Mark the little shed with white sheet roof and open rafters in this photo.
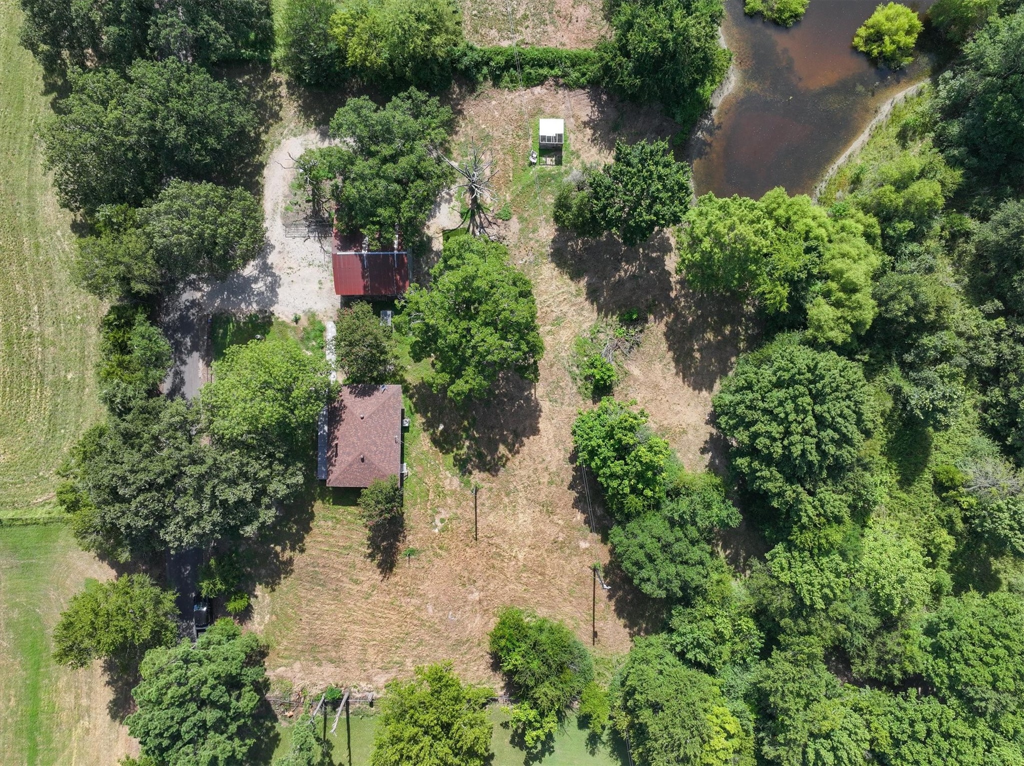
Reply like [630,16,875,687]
[539,118,563,149]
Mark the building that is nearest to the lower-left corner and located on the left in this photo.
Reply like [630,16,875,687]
[318,384,411,488]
